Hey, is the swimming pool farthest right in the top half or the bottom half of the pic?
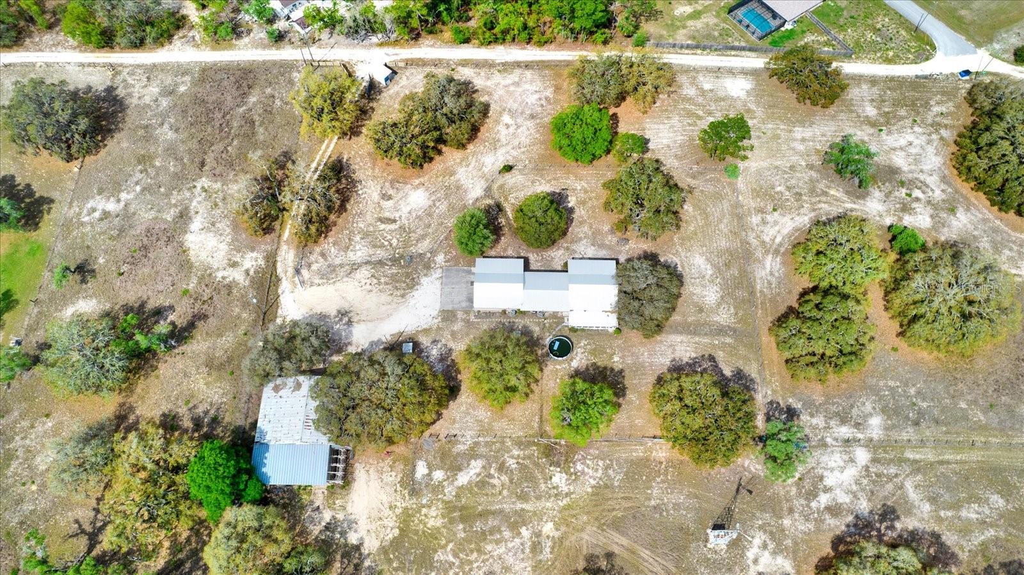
top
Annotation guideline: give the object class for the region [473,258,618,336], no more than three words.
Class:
house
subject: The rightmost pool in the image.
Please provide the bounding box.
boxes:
[741,7,773,32]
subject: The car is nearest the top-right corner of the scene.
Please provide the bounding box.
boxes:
[959,68,975,80]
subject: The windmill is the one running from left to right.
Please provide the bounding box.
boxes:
[709,525,753,547]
